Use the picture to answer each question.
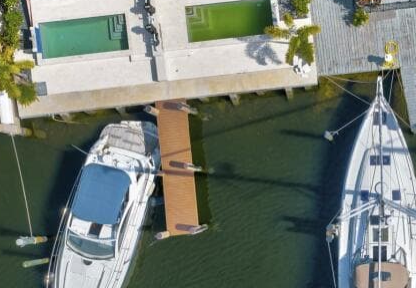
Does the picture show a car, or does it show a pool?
pool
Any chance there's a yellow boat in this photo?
No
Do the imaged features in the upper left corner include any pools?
Yes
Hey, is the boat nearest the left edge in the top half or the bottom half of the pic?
bottom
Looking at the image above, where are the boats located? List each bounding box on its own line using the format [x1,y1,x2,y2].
[47,120,161,288]
[336,74,416,288]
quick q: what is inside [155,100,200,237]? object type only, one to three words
pier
